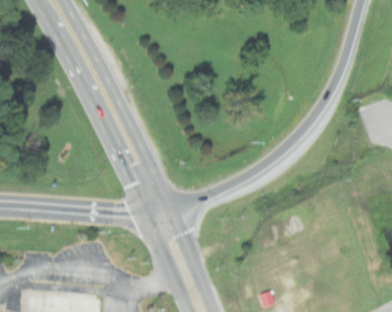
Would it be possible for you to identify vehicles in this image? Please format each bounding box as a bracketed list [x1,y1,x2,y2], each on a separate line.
[96,104,104,118]
[198,195,208,200]
[118,152,128,165]
[324,90,331,100]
